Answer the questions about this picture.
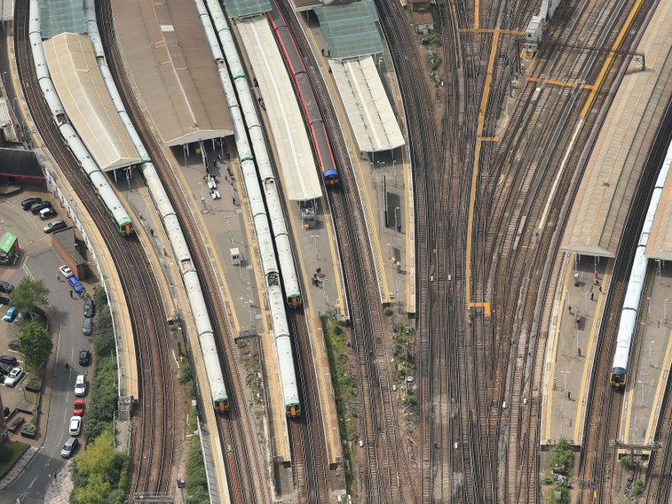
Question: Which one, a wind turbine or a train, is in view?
train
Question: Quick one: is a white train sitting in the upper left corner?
Yes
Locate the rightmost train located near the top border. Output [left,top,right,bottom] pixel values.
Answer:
[267,0,336,186]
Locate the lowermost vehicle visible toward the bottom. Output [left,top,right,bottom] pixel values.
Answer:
[58,433,78,455]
